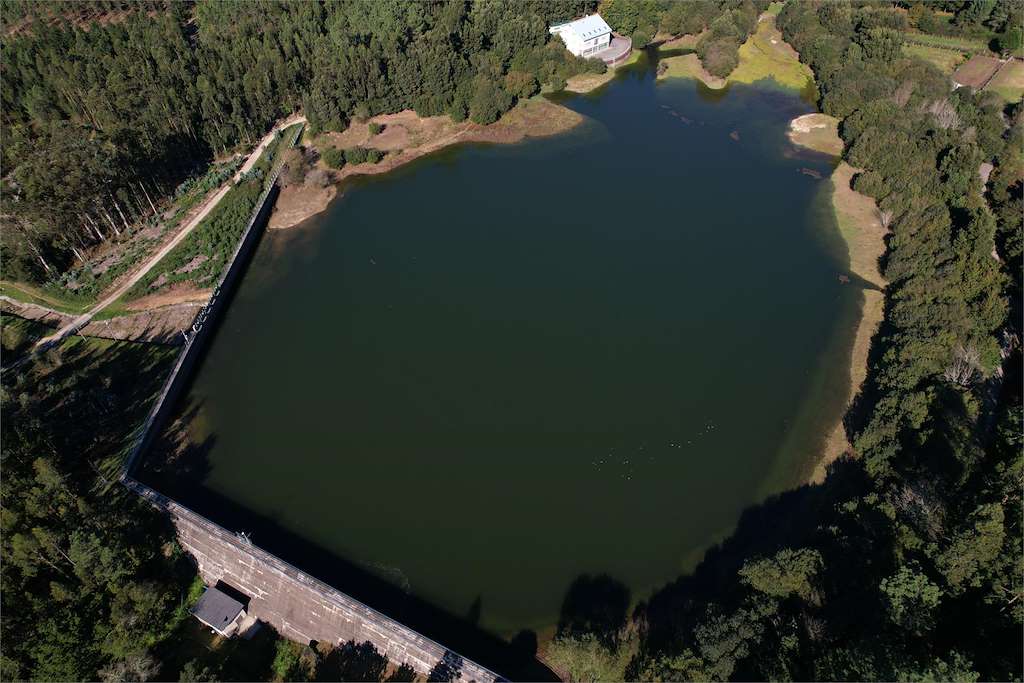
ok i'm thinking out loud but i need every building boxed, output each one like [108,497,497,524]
[190,586,254,640]
[549,12,612,57]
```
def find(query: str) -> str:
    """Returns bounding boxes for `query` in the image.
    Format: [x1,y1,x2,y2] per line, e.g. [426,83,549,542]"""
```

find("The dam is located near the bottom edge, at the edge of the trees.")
[114,473,514,683]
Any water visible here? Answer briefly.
Yes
